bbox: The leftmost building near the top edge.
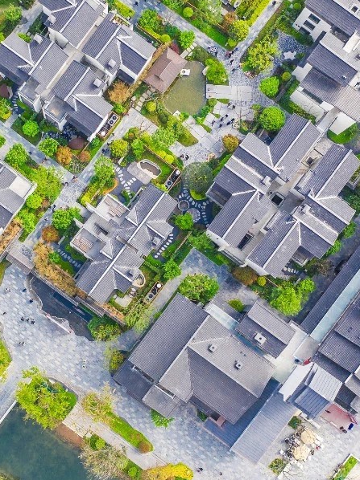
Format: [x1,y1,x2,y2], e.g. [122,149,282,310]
[0,0,159,141]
